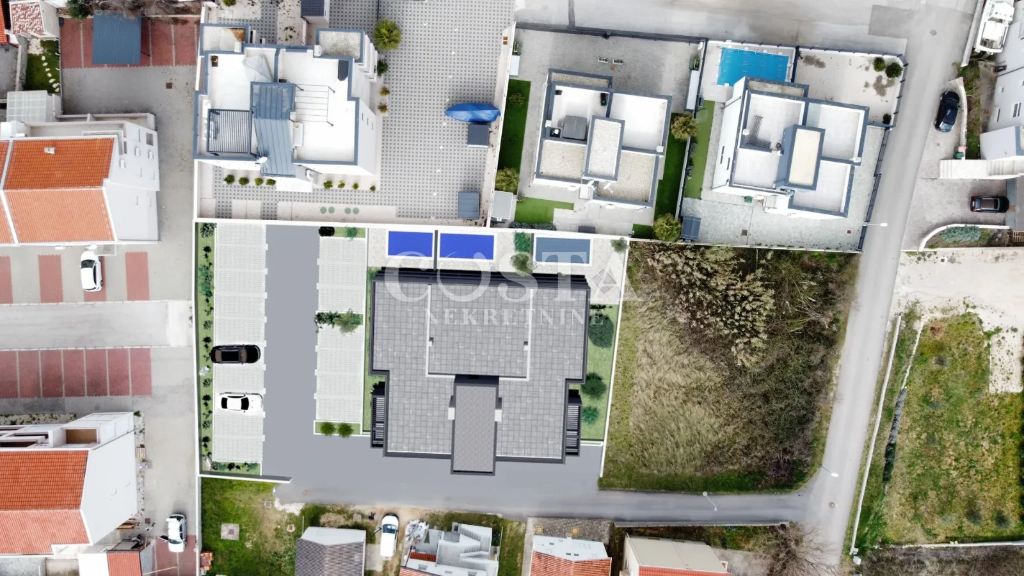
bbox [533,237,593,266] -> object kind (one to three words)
swimming pool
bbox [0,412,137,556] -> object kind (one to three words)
house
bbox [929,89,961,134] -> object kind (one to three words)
car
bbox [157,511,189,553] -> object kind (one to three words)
car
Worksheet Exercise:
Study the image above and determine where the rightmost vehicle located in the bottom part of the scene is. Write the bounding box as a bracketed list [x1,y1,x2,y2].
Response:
[371,510,400,563]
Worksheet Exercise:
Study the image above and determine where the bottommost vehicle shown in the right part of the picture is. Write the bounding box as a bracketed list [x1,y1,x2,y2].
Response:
[965,193,1005,215]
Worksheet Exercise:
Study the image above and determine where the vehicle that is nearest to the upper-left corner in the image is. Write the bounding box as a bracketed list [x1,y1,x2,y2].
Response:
[80,251,108,292]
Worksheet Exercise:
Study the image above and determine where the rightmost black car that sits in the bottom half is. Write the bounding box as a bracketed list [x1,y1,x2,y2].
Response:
[210,343,262,366]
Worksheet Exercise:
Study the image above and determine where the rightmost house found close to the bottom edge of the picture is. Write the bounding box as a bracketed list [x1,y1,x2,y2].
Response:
[624,525,729,576]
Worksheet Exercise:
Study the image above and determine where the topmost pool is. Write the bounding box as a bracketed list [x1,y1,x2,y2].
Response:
[715,48,791,87]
